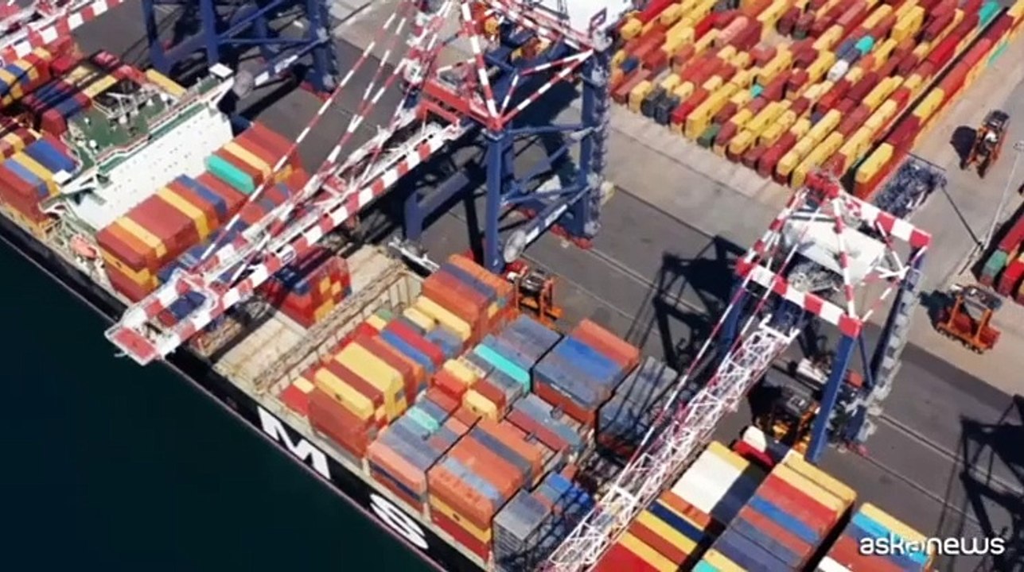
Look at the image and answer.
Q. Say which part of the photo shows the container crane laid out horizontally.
top left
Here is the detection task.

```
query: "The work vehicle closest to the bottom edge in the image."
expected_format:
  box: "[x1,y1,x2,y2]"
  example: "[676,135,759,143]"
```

[749,363,819,448]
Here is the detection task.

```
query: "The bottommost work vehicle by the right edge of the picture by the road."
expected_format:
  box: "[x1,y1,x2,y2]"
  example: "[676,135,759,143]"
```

[927,271,1000,352]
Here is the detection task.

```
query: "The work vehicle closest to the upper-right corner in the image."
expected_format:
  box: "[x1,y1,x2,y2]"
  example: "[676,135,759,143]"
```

[961,100,1012,172]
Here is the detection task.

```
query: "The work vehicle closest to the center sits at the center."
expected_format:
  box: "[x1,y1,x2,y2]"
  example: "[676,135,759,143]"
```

[518,253,573,319]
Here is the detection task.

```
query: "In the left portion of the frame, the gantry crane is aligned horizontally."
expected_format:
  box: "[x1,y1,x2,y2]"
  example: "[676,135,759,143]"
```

[0,0,326,142]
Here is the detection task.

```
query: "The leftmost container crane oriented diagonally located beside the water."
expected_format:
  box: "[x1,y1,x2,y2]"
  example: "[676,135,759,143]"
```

[100,0,649,376]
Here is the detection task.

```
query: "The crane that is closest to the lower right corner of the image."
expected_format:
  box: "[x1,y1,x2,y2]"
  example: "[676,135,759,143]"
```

[525,162,953,572]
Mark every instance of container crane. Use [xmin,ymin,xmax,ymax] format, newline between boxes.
[525,162,953,572]
[0,0,326,142]
[100,0,649,376]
